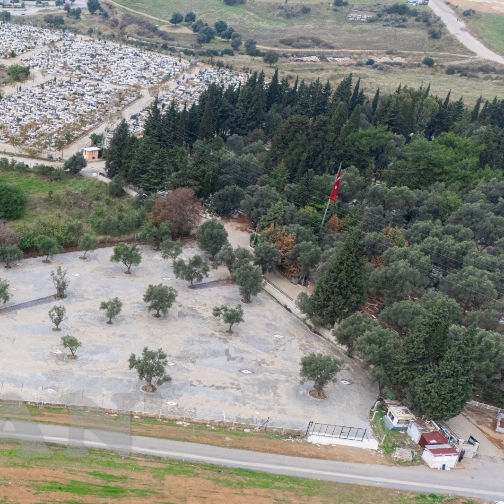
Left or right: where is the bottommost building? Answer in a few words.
right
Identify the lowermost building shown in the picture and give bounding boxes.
[418,438,462,469]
